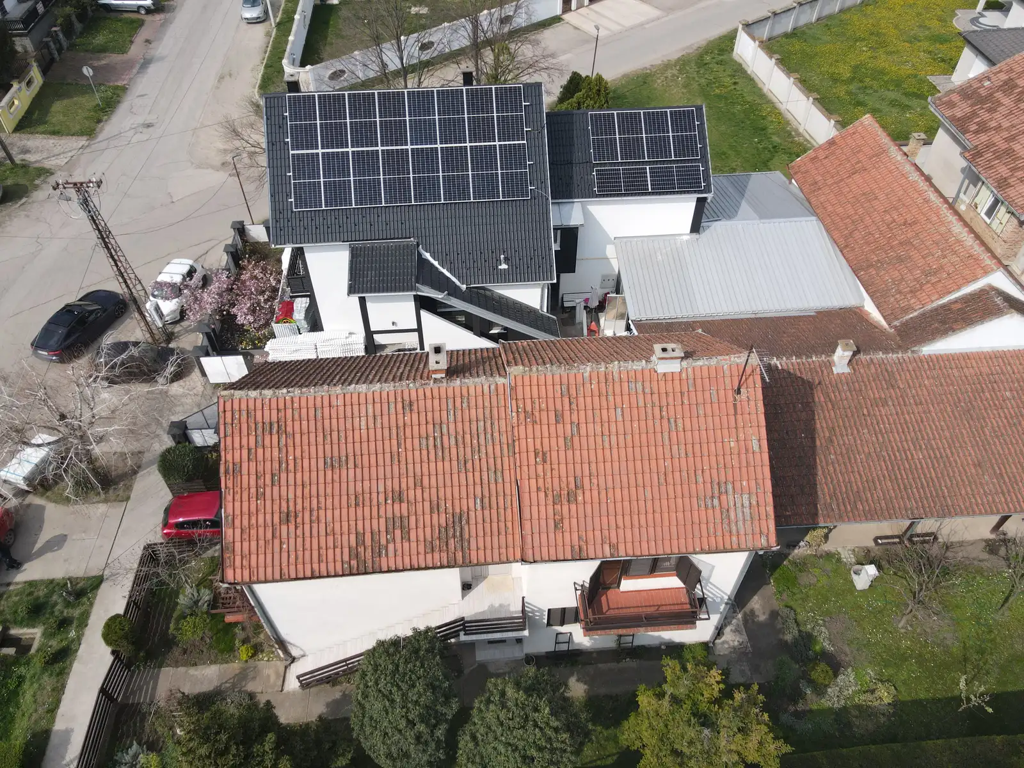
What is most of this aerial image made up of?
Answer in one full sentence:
The largest share of the image is taken up by buildings.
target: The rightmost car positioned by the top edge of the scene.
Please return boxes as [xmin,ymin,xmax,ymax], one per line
[241,0,275,21]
